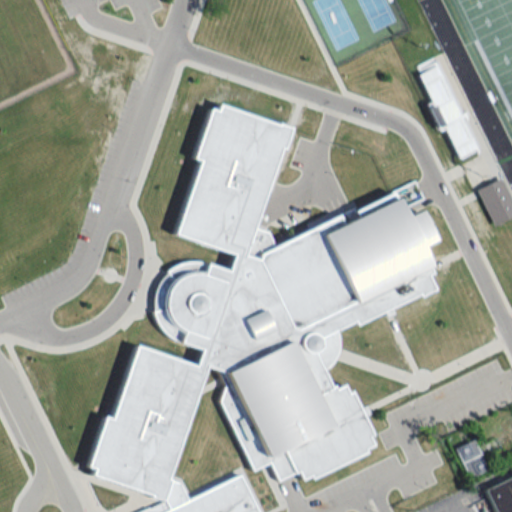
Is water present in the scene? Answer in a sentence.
No, water can't be seen anywhere here.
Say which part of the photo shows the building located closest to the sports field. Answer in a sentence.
The building located closest to the sports field is located in the right region of the scene.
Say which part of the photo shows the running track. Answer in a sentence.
The running track is in the top right part of the image.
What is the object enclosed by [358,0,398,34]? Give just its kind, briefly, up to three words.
tennis court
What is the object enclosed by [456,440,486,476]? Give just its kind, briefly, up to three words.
building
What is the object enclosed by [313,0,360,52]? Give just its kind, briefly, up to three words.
tennis court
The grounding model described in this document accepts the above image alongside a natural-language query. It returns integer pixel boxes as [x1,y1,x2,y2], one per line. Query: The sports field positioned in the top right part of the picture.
[444,0,512,139]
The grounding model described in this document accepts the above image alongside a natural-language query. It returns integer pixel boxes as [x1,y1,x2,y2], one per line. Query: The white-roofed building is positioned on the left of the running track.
[85,103,442,512]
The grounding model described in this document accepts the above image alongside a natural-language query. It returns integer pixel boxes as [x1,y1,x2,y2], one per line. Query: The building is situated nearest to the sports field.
[476,180,512,226]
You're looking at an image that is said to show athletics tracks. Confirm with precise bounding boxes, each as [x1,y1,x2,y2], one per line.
[418,0,512,186]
